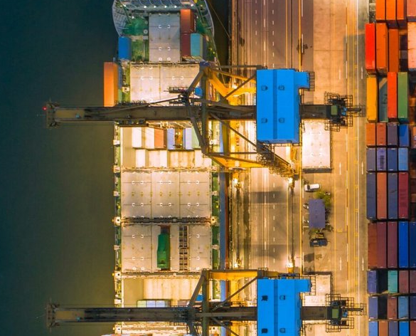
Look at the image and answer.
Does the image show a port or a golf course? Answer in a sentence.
This image shows a port.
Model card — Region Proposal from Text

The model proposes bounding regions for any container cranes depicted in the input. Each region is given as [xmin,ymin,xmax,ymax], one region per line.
[46,244,369,336]
[43,60,372,205]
